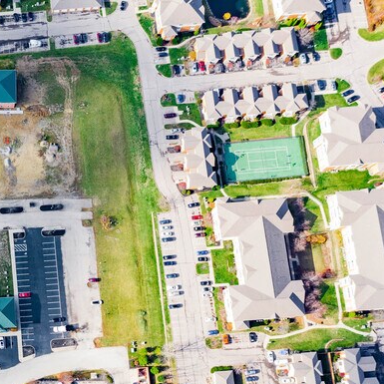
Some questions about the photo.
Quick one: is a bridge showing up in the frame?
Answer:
No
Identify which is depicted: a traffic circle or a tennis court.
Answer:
tennis court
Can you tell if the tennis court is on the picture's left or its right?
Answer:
right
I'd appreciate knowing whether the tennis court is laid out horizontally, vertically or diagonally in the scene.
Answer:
horizontally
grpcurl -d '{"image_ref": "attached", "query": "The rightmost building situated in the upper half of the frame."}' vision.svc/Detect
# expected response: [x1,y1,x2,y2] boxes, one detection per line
[315,108,384,179]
